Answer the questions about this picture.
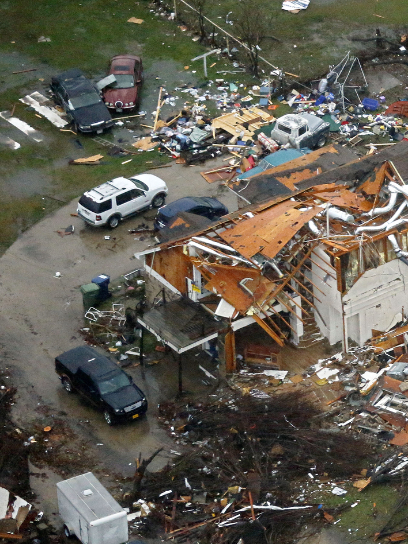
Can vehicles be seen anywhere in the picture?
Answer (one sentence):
Yes, the image includes a vehicle.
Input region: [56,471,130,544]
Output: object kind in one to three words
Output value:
trailer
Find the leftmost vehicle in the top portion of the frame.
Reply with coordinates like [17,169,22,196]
[49,67,114,132]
